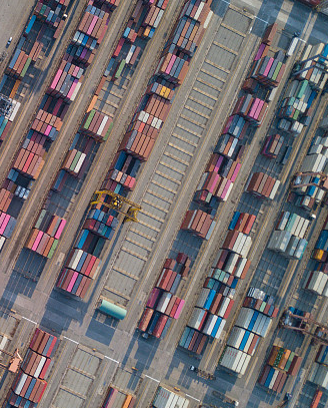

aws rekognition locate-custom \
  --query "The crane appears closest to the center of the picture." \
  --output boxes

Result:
[81,185,144,225]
